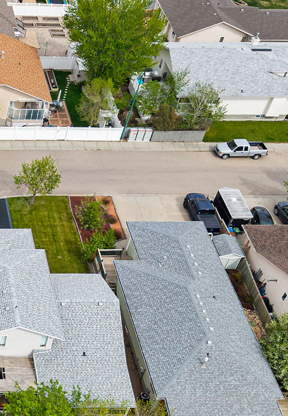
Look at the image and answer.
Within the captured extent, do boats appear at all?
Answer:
No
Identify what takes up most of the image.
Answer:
buildings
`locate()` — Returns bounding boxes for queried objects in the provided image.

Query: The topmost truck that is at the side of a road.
[215,140,273,162]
